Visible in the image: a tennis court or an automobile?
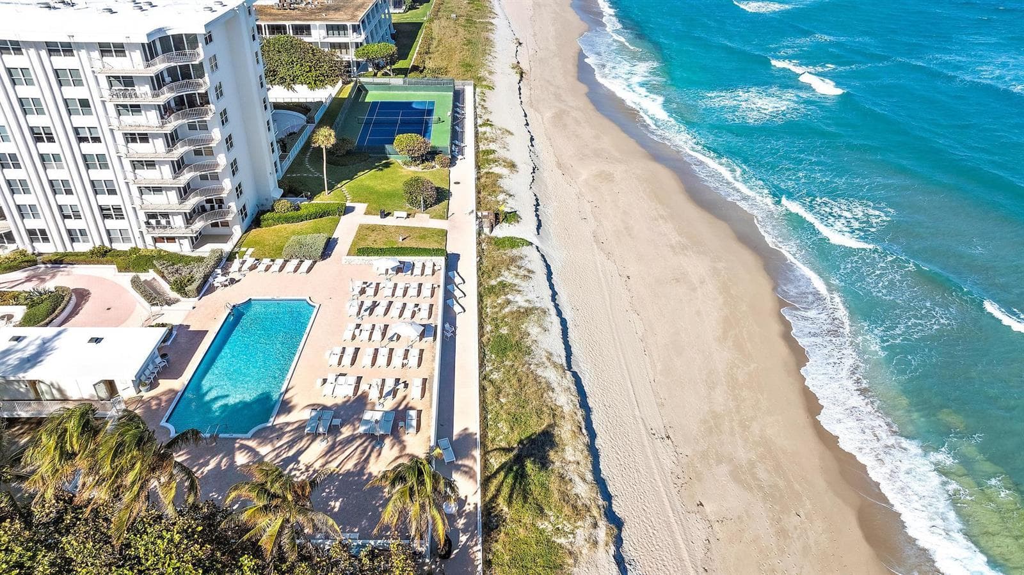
tennis court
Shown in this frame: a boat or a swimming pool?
swimming pool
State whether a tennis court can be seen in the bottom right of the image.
No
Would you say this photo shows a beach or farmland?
beach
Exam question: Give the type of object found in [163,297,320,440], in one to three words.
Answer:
swimming pool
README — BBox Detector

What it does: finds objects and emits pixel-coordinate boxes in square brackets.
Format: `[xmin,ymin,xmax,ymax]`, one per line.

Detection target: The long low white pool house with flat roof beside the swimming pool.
[0,327,169,403]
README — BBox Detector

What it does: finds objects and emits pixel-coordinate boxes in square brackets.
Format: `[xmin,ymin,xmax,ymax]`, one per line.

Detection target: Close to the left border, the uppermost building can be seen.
[0,0,286,247]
